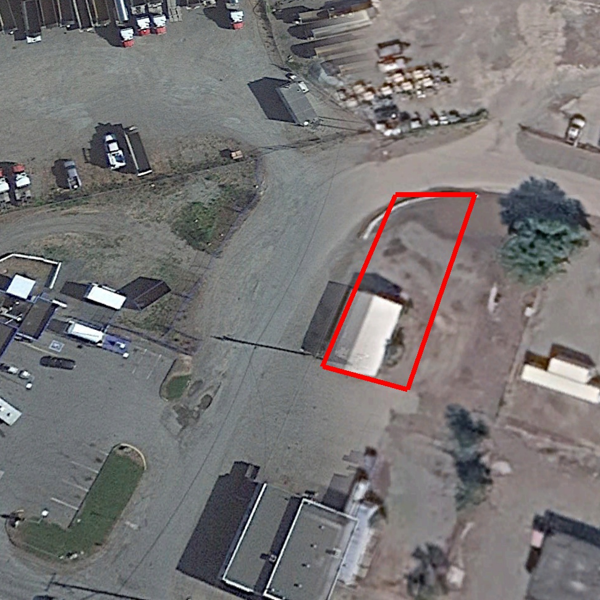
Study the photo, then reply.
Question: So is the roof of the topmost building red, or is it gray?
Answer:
gray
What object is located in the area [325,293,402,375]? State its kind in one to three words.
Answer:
building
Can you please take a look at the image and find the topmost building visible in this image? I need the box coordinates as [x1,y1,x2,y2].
[277,81,316,126]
